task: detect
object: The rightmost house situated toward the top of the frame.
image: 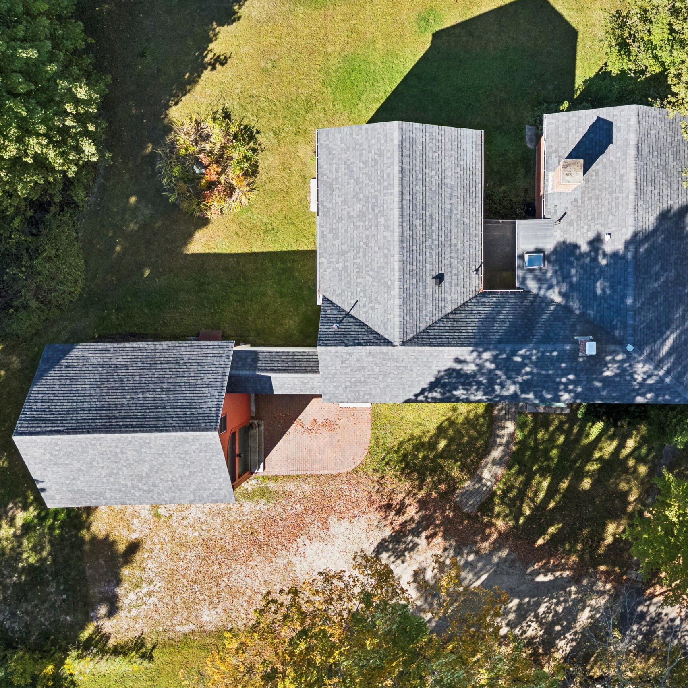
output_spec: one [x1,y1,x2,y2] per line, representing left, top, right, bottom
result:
[313,105,688,402]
